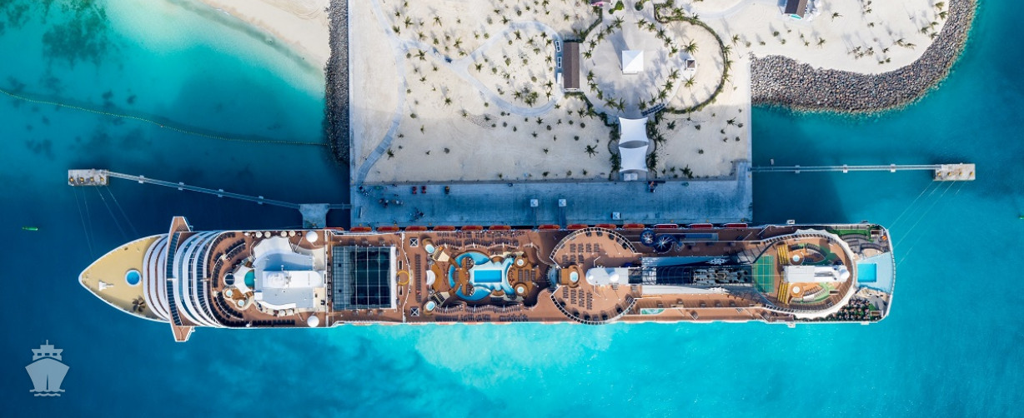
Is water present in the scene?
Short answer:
Yes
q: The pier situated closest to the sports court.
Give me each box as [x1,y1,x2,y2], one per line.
[351,161,750,226]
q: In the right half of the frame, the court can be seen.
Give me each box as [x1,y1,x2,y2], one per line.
[752,256,777,294]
